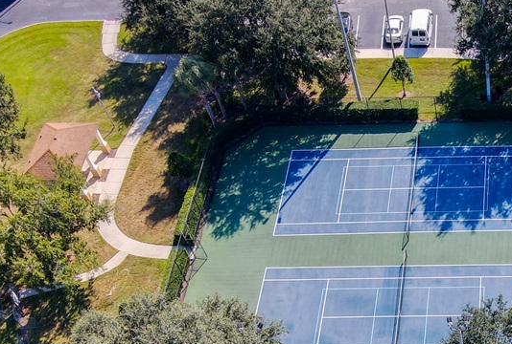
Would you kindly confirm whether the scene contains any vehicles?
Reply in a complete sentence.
Yes, the image includes a vehicle.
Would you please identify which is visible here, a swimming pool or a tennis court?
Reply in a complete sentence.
Visible in the photo is a tennis court.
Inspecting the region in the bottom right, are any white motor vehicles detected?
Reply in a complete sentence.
No, I see no white motor vehicle in the bottom right.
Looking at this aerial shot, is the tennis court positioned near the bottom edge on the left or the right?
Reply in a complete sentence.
The tennis court positioned near the bottom edge appears in the right half of the scene.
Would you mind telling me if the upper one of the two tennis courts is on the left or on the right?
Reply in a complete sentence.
The upper one of the two tennis courts is on the right side of the image.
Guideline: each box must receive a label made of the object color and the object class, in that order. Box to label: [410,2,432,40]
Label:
white vehicle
